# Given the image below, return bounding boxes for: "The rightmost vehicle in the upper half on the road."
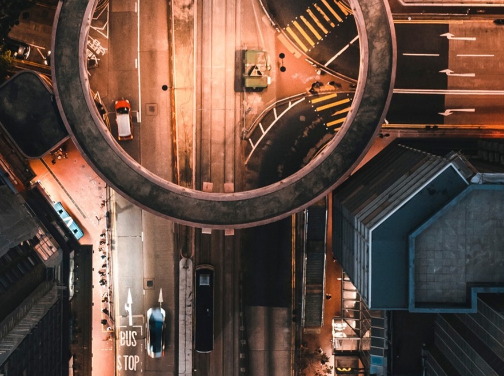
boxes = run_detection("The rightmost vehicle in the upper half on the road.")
[114,97,132,141]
